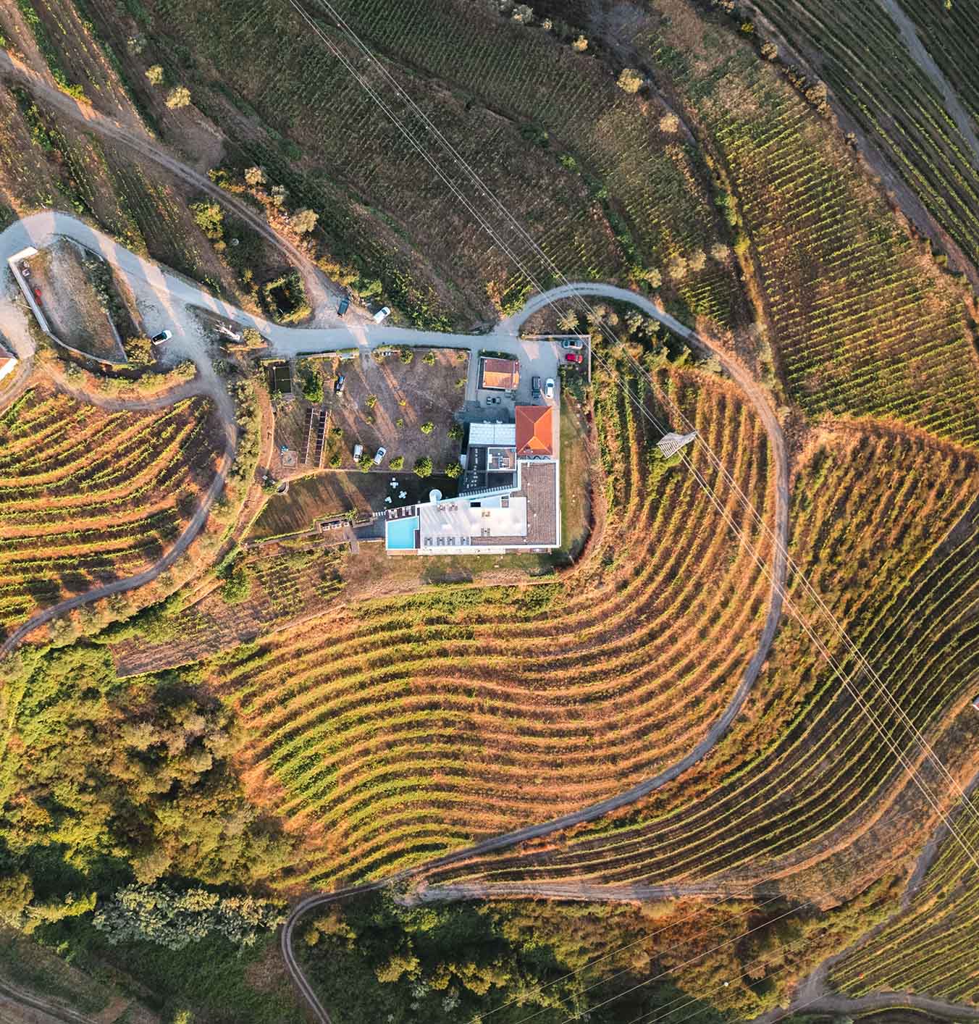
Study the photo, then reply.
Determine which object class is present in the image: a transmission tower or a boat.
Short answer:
transmission tower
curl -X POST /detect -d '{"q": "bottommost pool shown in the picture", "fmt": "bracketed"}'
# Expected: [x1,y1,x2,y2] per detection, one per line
[389,516,417,547]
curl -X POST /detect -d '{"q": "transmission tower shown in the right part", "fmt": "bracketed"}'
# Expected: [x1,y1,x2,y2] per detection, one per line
[647,428,701,464]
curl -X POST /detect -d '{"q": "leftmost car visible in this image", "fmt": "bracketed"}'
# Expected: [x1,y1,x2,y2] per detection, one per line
[151,329,171,344]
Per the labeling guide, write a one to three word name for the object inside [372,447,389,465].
car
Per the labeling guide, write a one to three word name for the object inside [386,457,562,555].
building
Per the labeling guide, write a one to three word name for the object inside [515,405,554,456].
house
